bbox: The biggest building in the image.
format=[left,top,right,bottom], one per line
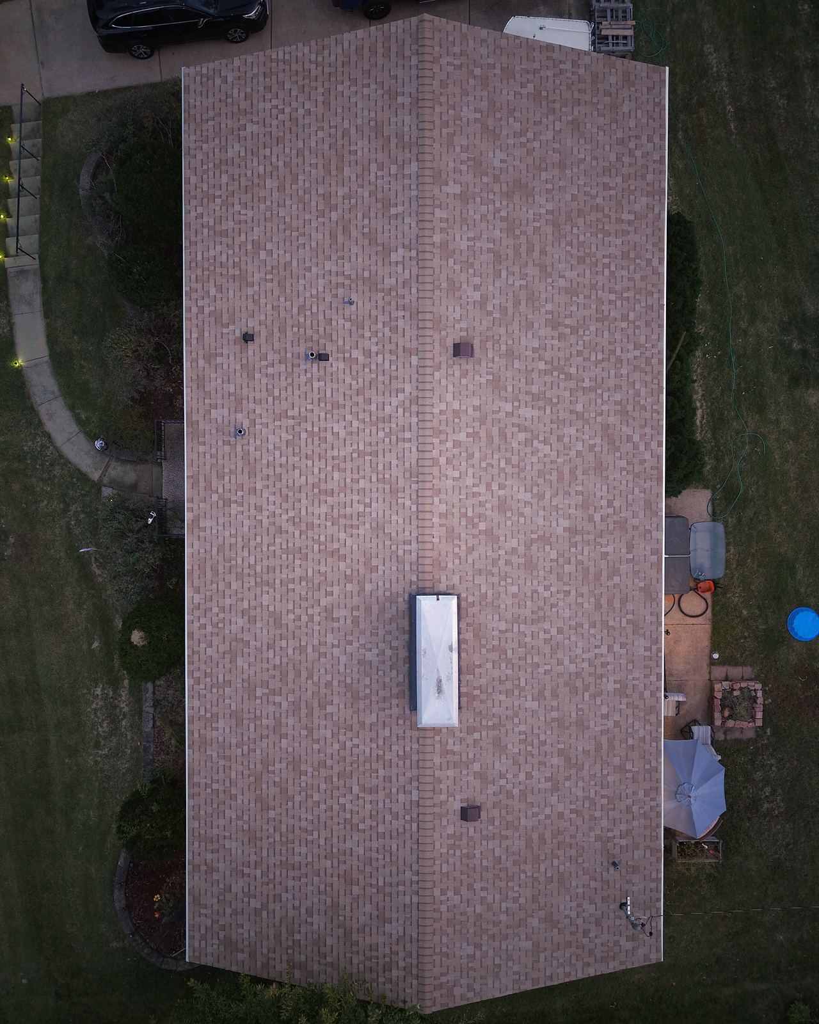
[181,14,668,1014]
